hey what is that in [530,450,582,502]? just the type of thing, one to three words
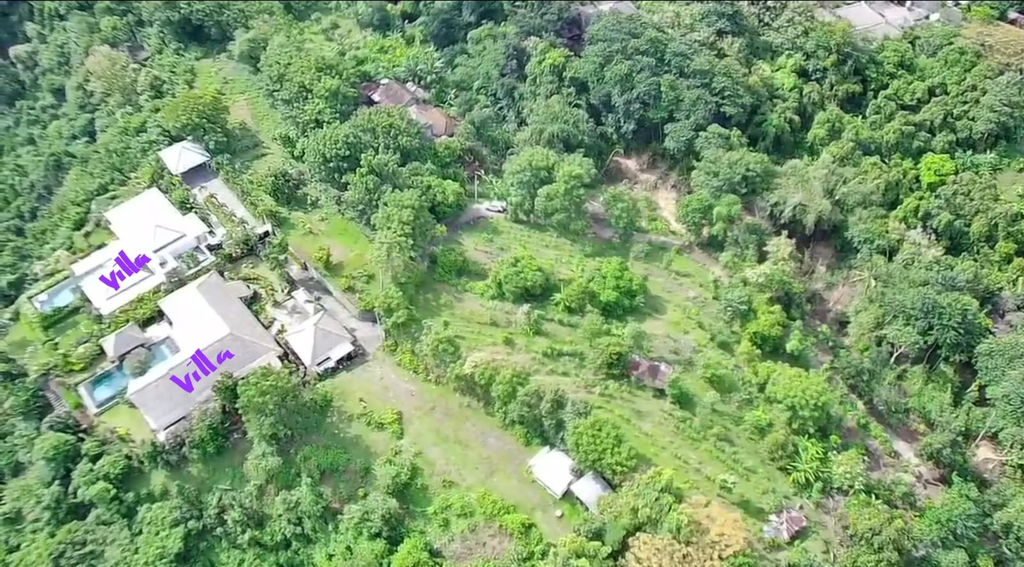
shed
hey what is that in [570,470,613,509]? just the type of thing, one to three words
shed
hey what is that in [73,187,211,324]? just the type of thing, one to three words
house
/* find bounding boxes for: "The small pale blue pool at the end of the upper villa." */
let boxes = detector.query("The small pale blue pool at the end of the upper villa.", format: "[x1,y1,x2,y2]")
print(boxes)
[31,273,88,320]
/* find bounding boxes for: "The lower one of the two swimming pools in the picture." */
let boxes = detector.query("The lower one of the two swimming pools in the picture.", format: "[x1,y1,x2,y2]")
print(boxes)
[78,333,181,417]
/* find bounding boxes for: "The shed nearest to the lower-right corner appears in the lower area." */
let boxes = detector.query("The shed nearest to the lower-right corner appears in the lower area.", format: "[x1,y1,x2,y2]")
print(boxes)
[771,505,808,541]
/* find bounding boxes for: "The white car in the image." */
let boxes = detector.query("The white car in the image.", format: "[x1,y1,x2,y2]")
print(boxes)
[483,199,505,211]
